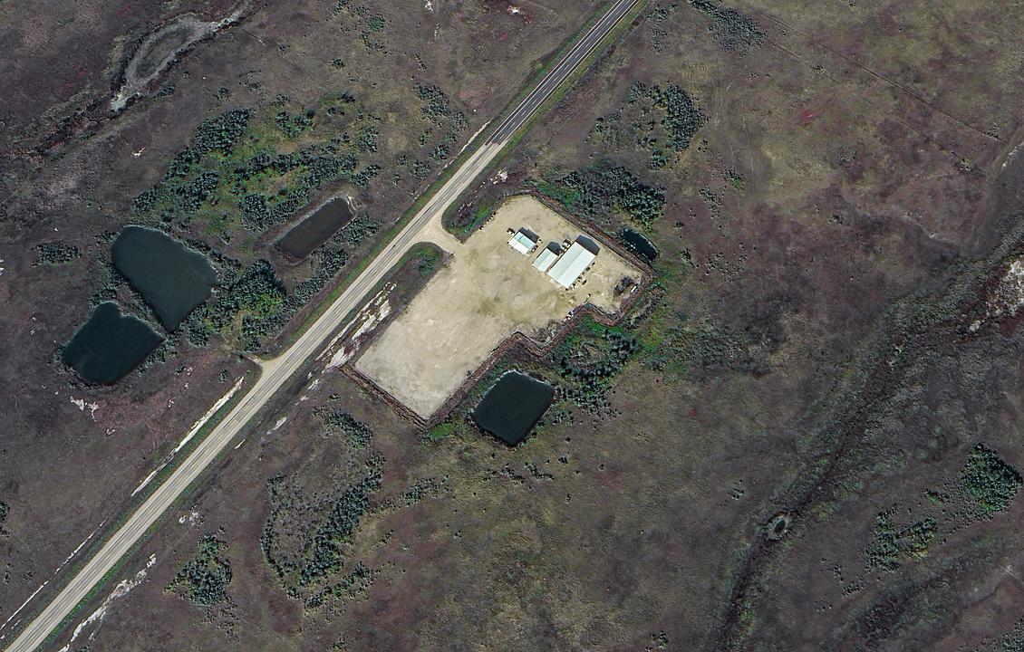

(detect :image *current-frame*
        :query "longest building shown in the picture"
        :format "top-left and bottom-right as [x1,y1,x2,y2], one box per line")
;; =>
[549,241,595,290]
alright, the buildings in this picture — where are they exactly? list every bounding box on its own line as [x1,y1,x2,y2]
[549,241,595,290]
[533,247,558,273]
[509,230,535,255]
